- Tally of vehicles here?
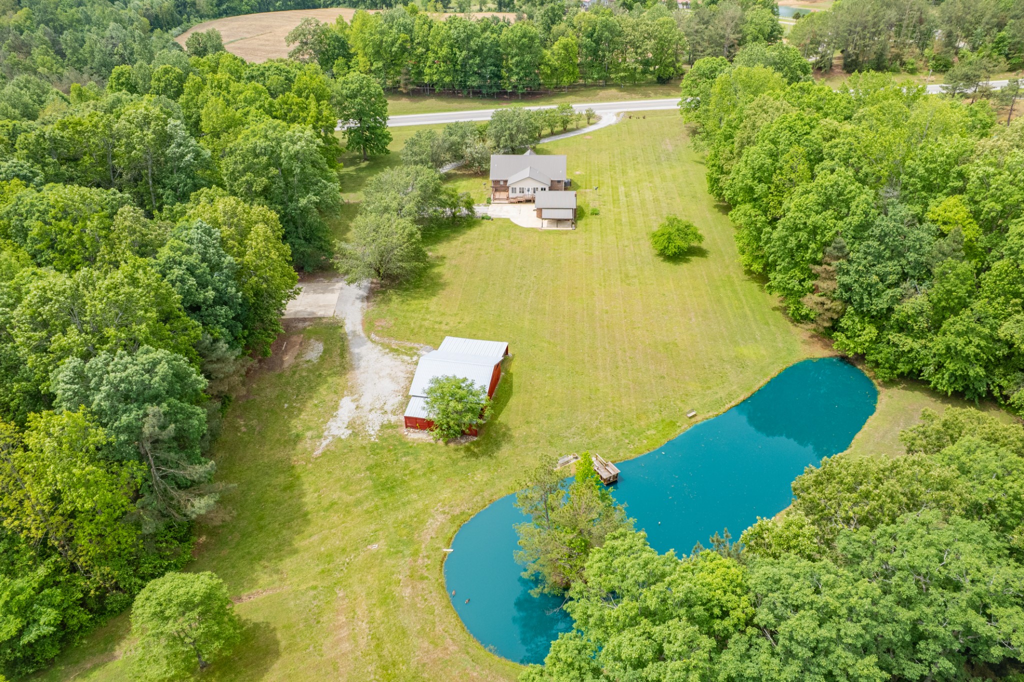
none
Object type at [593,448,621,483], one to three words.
pier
